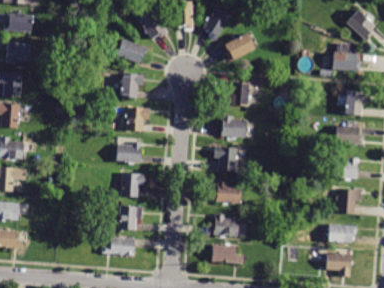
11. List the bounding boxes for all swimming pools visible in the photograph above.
[274,95,284,107]
[298,56,314,72]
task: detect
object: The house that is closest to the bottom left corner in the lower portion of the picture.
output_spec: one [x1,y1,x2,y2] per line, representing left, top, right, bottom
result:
[0,229,21,248]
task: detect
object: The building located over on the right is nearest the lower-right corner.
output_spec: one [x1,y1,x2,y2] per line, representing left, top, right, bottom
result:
[327,248,355,277]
